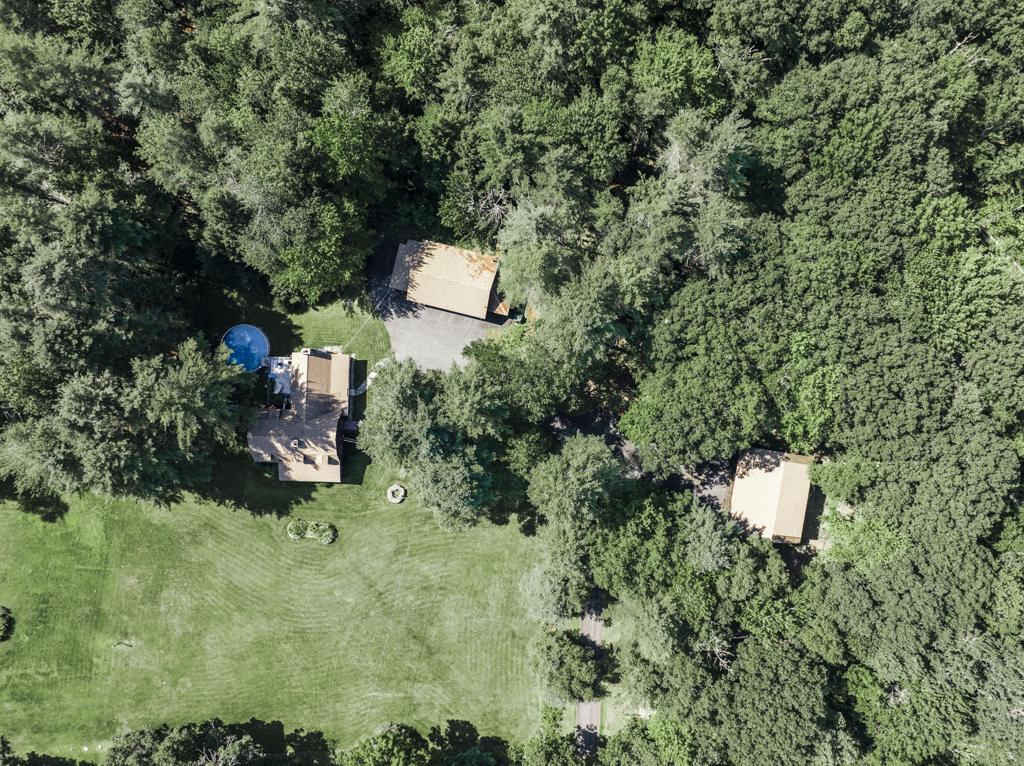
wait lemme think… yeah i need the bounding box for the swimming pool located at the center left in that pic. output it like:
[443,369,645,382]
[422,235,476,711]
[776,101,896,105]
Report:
[220,324,271,372]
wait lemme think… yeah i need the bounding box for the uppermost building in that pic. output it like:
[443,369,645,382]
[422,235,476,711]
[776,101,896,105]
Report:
[389,239,508,319]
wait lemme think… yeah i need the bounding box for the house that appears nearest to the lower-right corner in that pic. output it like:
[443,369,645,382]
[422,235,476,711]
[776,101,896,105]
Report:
[725,447,809,542]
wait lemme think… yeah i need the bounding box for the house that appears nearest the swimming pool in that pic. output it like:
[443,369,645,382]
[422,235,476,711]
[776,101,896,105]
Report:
[246,347,352,483]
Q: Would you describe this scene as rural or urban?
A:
rural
